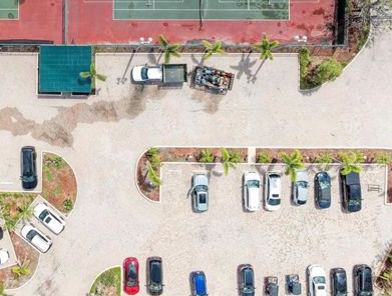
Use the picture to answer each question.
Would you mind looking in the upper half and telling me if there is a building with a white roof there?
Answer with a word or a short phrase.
No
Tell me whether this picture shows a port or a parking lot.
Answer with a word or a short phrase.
parking lot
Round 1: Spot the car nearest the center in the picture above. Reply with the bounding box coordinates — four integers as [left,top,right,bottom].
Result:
[186,173,208,212]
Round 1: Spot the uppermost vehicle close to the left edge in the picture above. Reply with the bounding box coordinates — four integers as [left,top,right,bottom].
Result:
[19,147,38,191]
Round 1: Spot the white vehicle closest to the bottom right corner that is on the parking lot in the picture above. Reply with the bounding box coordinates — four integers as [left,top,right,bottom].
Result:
[306,263,327,296]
